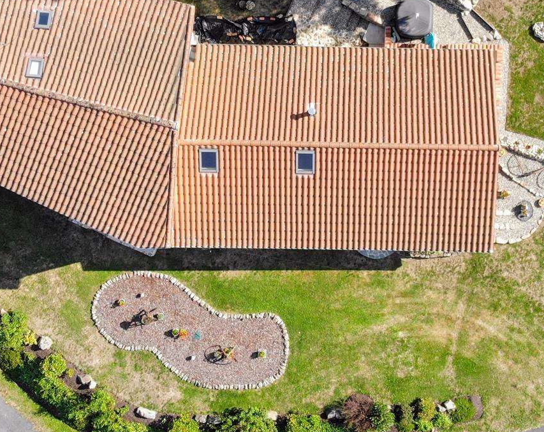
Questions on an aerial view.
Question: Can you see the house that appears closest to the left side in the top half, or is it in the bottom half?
top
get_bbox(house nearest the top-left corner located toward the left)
[0,0,206,250]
